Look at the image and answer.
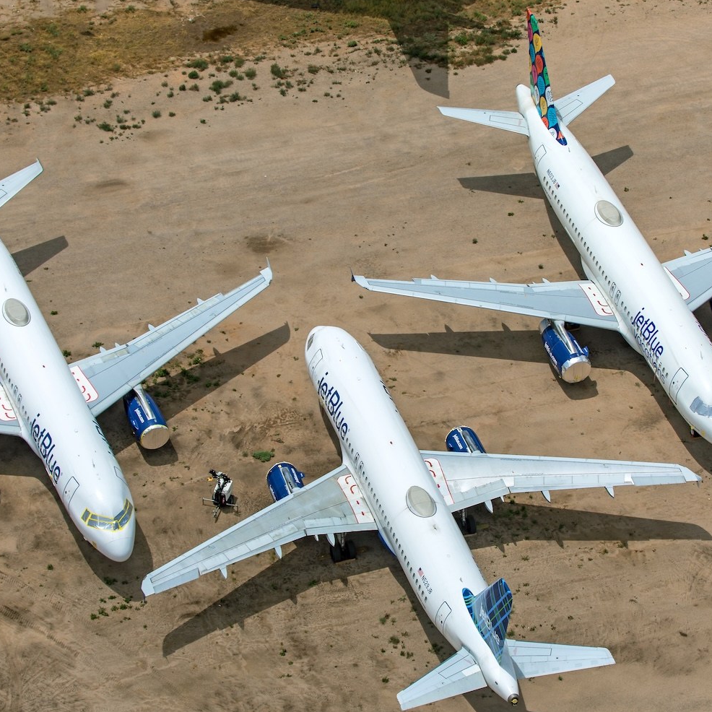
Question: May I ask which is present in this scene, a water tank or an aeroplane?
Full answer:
Of the two, only an aeroplane appears.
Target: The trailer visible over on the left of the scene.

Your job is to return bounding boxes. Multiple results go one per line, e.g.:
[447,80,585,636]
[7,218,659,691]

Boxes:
[202,469,238,516]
